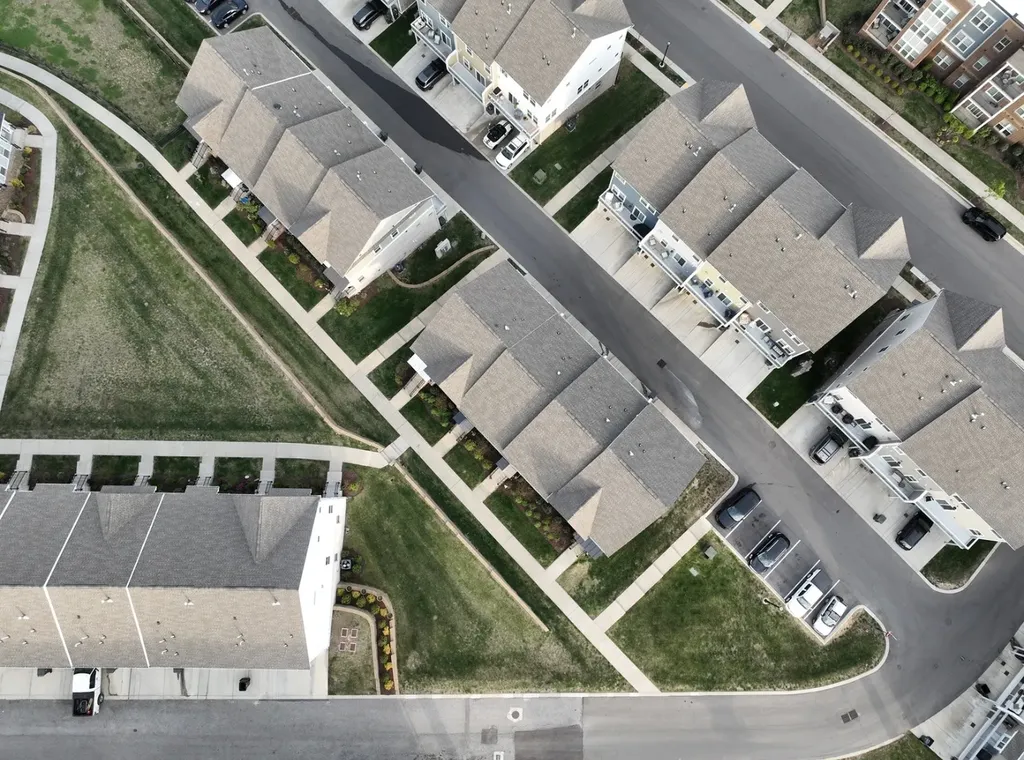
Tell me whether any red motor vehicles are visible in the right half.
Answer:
No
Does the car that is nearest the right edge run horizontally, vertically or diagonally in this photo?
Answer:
diagonally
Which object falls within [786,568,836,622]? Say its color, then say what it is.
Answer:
white truck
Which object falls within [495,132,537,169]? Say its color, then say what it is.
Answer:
white car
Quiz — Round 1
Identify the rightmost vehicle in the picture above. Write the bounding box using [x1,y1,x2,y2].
[963,205,1012,247]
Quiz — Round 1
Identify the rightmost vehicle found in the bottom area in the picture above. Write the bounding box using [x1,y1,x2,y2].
[899,513,940,554]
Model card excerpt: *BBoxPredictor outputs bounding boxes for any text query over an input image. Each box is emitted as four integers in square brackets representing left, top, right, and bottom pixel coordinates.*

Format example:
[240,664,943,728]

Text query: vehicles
[480,114,512,146]
[495,132,537,169]
[812,596,854,641]
[786,568,836,622]
[811,425,853,467]
[899,513,940,554]
[412,53,449,88]
[71,668,103,719]
[963,205,1012,247]
[349,0,388,25]
[717,486,761,532]
[749,531,795,577]
[206,0,248,28]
